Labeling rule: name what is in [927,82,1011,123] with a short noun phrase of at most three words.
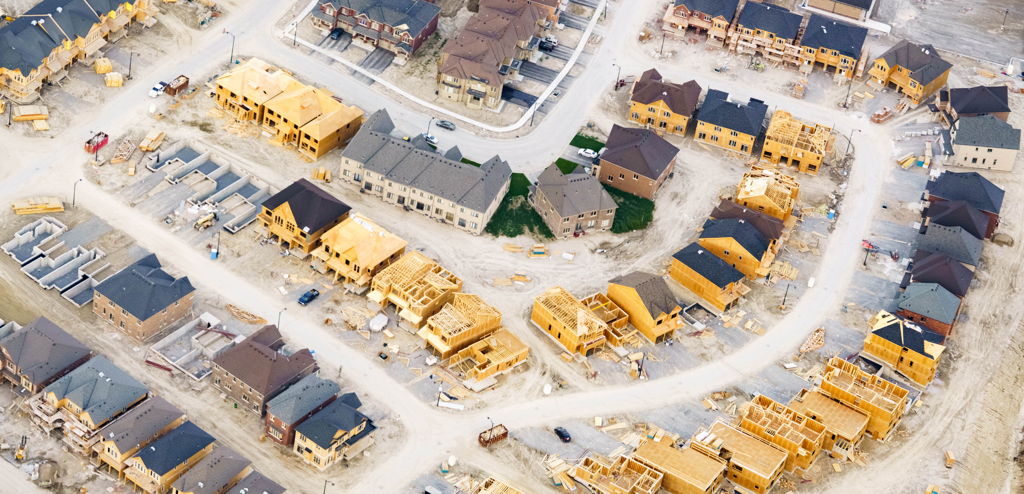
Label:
house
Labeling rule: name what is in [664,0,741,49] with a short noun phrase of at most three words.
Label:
house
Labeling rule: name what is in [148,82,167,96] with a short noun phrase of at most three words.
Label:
vehicle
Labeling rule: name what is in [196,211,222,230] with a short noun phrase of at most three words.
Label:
work vehicle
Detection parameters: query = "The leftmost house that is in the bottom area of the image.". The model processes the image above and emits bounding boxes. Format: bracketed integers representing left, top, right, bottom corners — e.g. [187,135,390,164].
[0,315,90,409]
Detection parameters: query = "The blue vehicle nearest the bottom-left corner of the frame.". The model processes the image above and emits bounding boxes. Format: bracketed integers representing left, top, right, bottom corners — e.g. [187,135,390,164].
[297,288,320,304]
